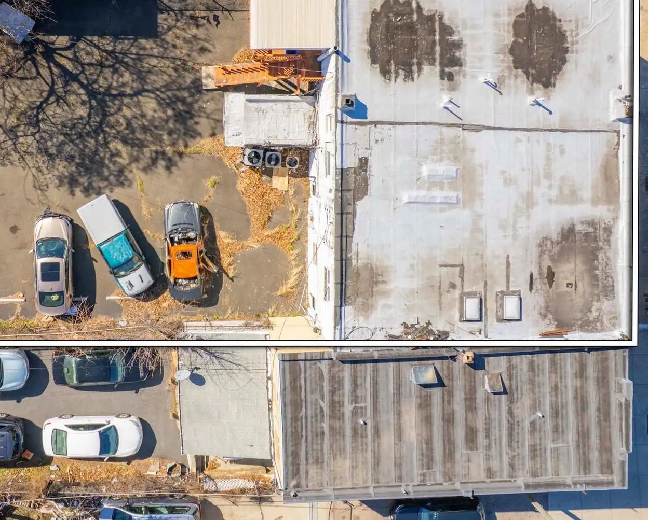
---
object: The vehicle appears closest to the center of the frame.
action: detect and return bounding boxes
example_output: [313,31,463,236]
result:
[161,199,218,299]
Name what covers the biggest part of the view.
buildings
